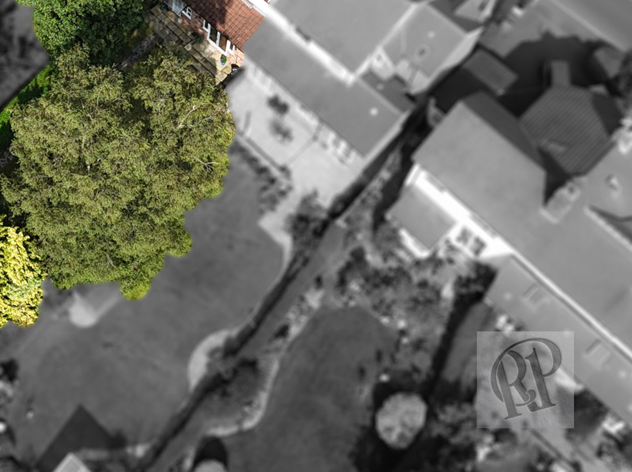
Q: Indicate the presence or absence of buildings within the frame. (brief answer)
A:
Yes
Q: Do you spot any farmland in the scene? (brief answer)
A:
No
